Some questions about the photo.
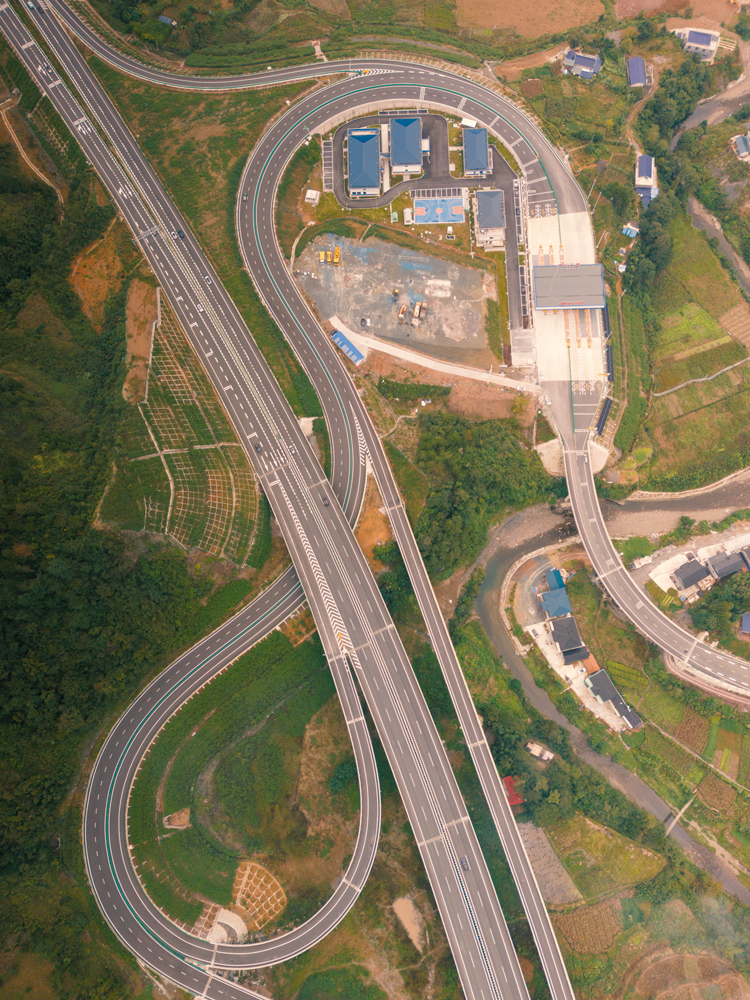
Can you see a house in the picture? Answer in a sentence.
Yes, I can see a house in this picture.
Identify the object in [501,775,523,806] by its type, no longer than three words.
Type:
shed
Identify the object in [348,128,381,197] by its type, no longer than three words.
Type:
building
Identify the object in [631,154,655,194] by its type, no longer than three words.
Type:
house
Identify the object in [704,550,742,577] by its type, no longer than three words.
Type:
house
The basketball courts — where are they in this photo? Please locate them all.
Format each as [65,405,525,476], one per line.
[412,198,467,224]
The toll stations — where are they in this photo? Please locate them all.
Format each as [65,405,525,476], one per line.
[524,205,606,391]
